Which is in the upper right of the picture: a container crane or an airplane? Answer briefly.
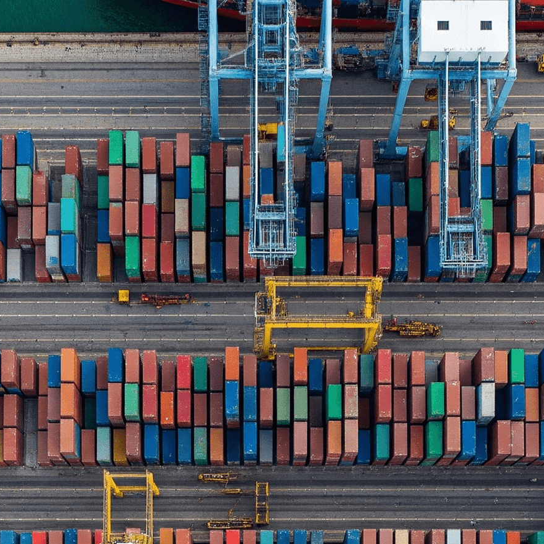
container crane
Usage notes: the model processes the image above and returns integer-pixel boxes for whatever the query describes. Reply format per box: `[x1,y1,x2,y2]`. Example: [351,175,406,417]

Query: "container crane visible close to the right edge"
[365,0,521,281]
